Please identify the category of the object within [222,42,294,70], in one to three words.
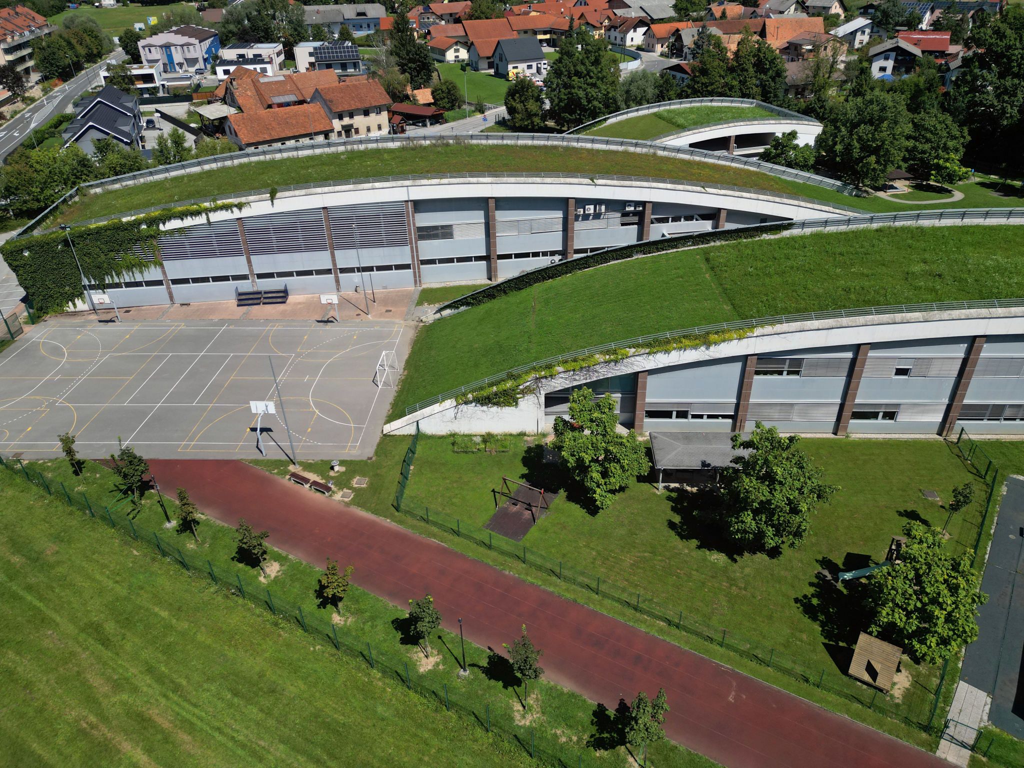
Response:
house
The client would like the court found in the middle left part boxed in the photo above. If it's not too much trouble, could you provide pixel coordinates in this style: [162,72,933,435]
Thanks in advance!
[0,320,426,459]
